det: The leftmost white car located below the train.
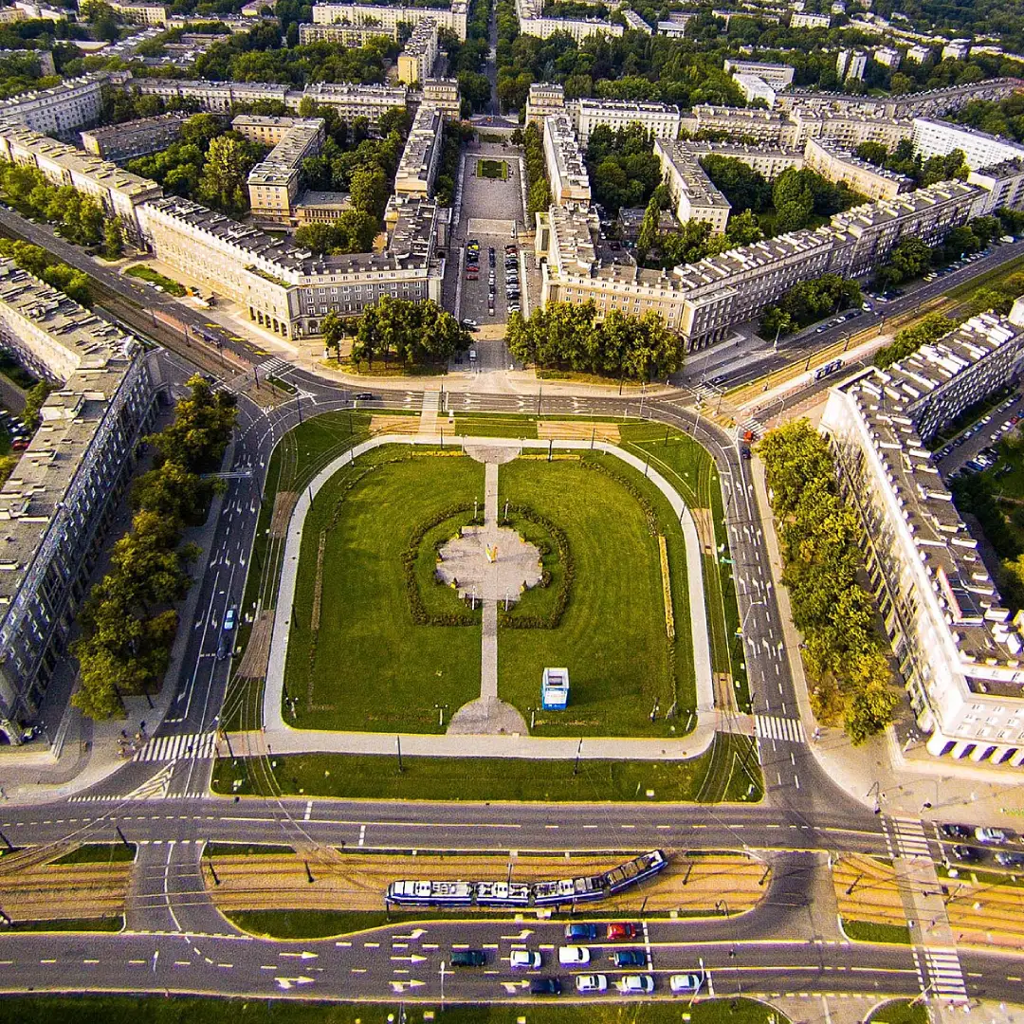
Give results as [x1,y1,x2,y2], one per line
[510,950,541,969]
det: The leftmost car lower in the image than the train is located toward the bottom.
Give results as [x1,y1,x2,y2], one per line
[451,949,483,968]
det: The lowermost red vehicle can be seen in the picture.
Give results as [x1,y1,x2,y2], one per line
[606,921,638,939]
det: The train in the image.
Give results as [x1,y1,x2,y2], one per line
[387,851,669,908]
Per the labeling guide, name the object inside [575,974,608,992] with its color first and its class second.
white car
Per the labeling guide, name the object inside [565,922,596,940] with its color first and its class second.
blue car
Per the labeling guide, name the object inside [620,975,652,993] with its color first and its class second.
white car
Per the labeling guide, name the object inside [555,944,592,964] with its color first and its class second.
white vehicle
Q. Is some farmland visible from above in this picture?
No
